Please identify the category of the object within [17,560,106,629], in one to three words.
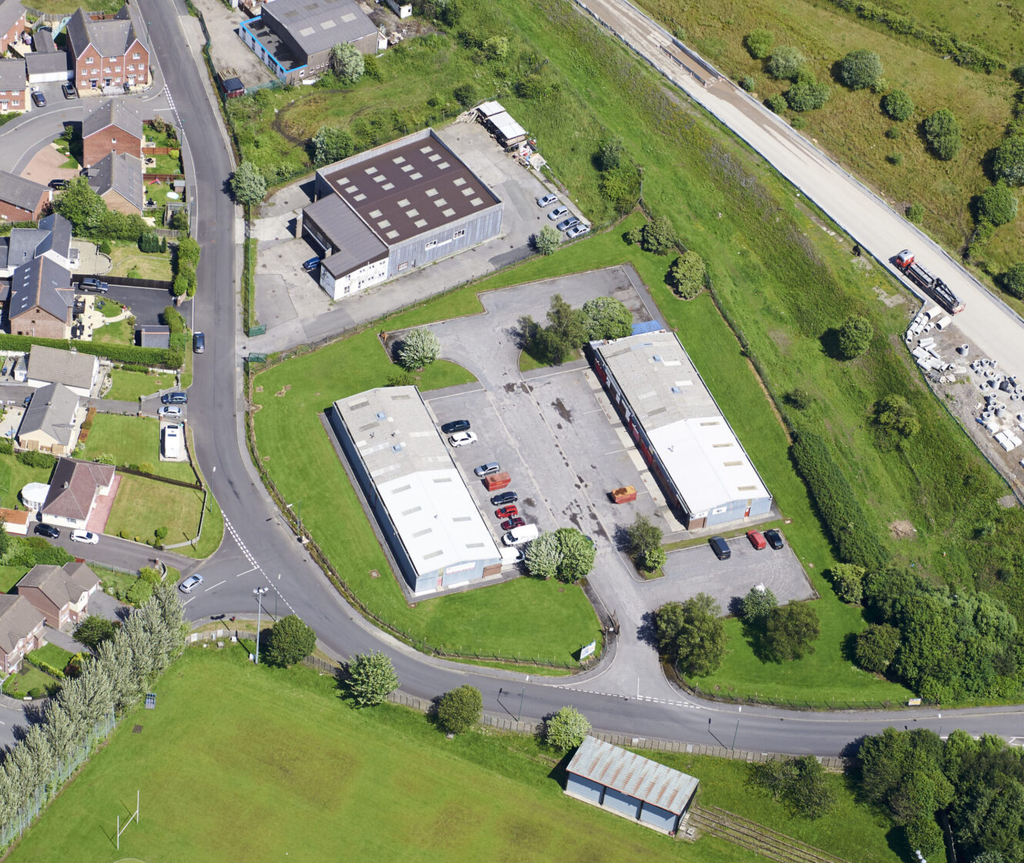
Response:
house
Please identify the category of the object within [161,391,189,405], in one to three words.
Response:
car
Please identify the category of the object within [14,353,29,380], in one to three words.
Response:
shed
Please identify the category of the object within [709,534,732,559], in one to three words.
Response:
car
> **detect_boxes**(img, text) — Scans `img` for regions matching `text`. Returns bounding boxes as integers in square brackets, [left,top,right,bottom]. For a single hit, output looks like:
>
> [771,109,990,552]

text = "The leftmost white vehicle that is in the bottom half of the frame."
[70,527,98,543]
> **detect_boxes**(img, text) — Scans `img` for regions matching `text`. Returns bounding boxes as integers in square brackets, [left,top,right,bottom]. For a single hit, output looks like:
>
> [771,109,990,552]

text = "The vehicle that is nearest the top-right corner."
[896,251,965,310]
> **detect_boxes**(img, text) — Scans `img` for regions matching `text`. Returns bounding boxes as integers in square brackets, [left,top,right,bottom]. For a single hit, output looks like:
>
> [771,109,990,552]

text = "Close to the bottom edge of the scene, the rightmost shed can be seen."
[559,736,700,837]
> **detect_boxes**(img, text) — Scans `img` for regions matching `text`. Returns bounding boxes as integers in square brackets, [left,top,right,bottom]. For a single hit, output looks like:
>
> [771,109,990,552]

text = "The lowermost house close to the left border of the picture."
[0,596,50,694]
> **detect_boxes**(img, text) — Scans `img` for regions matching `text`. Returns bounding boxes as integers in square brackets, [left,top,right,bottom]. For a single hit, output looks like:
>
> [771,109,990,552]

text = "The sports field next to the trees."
[0,652,699,863]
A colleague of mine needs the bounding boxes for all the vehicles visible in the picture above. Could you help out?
[746,526,768,549]
[494,502,521,519]
[29,87,49,105]
[896,251,965,310]
[491,490,518,507]
[442,418,471,433]
[155,404,184,418]
[566,221,593,238]
[556,214,582,230]
[300,256,324,271]
[450,432,479,448]
[70,527,98,543]
[193,331,206,350]
[537,191,561,206]
[547,203,571,220]
[60,77,78,98]
[500,515,529,532]
[709,534,732,559]
[497,543,529,564]
[33,522,61,538]
[161,391,189,405]
[764,527,784,548]
[165,421,180,456]
[78,277,108,294]
[504,520,541,544]
[474,460,501,477]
